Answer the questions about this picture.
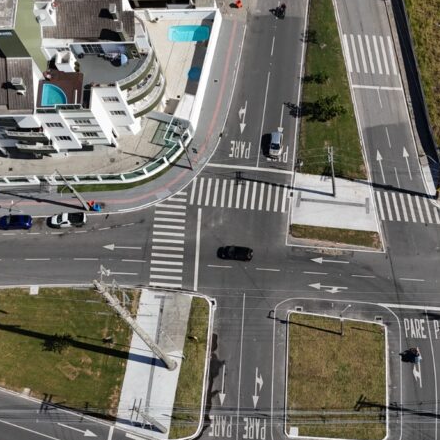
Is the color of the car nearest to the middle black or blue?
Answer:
black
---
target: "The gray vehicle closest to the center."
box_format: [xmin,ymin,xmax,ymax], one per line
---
[266,128,283,158]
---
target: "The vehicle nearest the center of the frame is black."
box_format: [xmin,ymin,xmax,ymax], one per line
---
[217,242,254,262]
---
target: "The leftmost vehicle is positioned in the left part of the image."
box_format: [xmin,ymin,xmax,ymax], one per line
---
[0,212,31,230]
